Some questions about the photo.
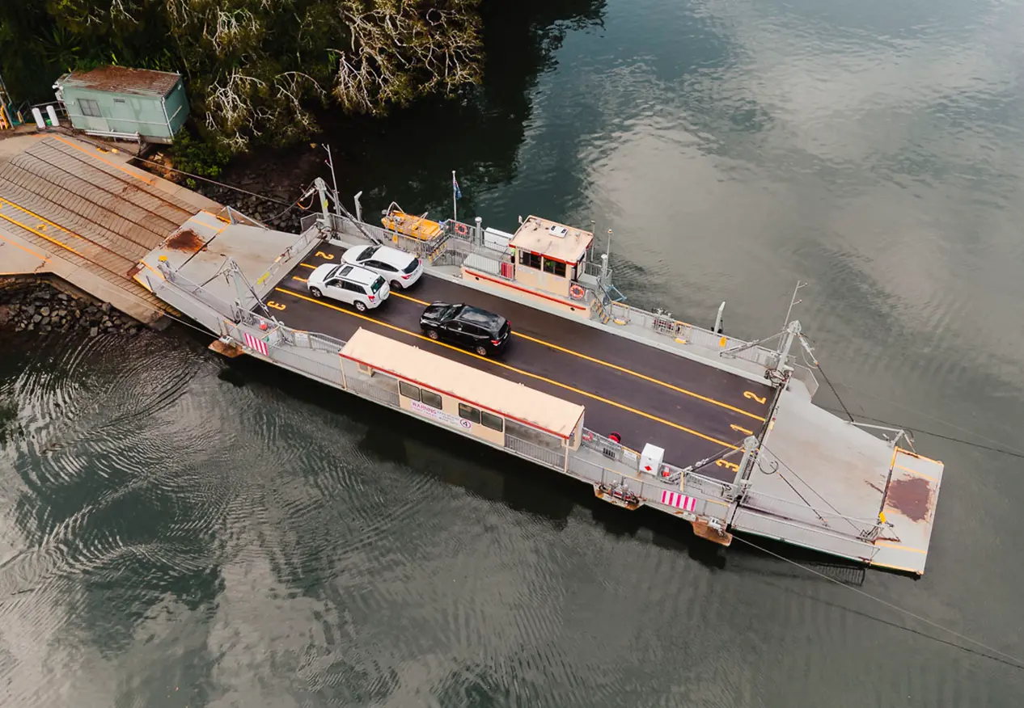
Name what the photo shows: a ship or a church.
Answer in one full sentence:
The image shows a ship.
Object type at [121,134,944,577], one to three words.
ship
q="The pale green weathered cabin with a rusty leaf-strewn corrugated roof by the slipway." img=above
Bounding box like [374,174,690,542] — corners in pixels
[55,62,189,142]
